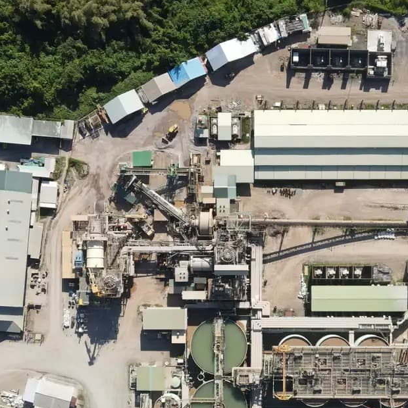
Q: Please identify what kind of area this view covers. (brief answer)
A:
industrial area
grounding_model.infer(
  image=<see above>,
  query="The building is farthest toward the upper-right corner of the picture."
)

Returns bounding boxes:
[366,31,393,52]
